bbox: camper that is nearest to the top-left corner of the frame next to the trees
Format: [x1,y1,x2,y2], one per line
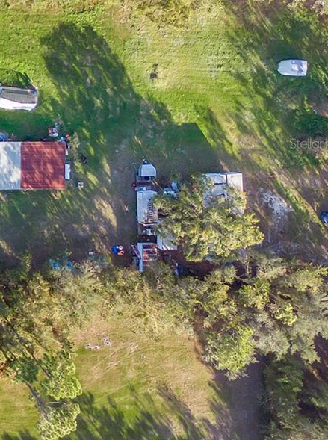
[133,159,156,182]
